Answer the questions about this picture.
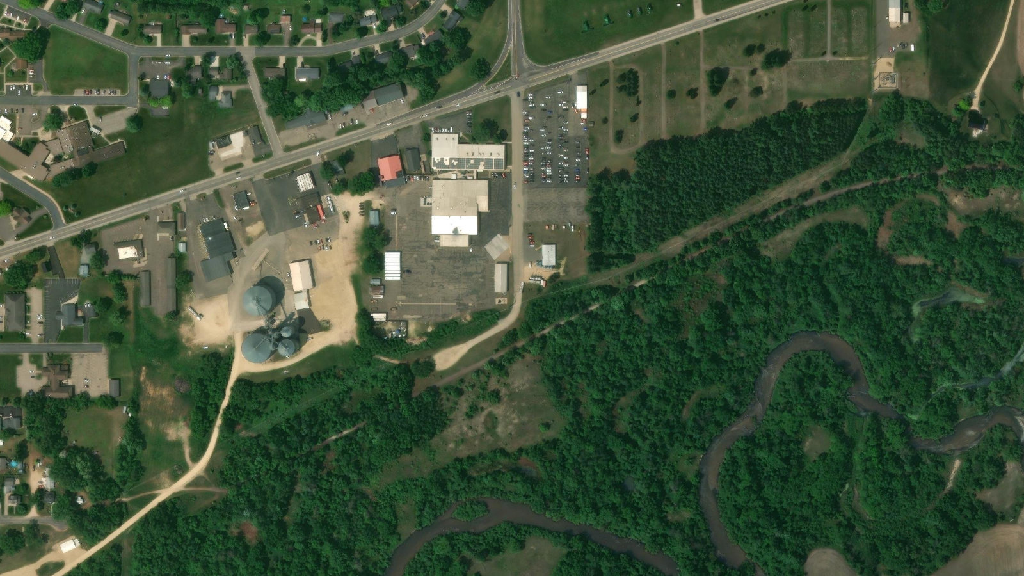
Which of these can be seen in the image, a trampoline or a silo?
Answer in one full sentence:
This aerial view contains a silo.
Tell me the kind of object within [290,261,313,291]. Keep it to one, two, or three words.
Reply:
shed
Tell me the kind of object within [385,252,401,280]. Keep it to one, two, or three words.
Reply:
building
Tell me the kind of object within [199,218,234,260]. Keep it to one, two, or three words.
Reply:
building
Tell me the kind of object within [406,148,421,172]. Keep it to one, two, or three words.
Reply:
barn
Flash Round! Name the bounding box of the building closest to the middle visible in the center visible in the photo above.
[495,264,507,292]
